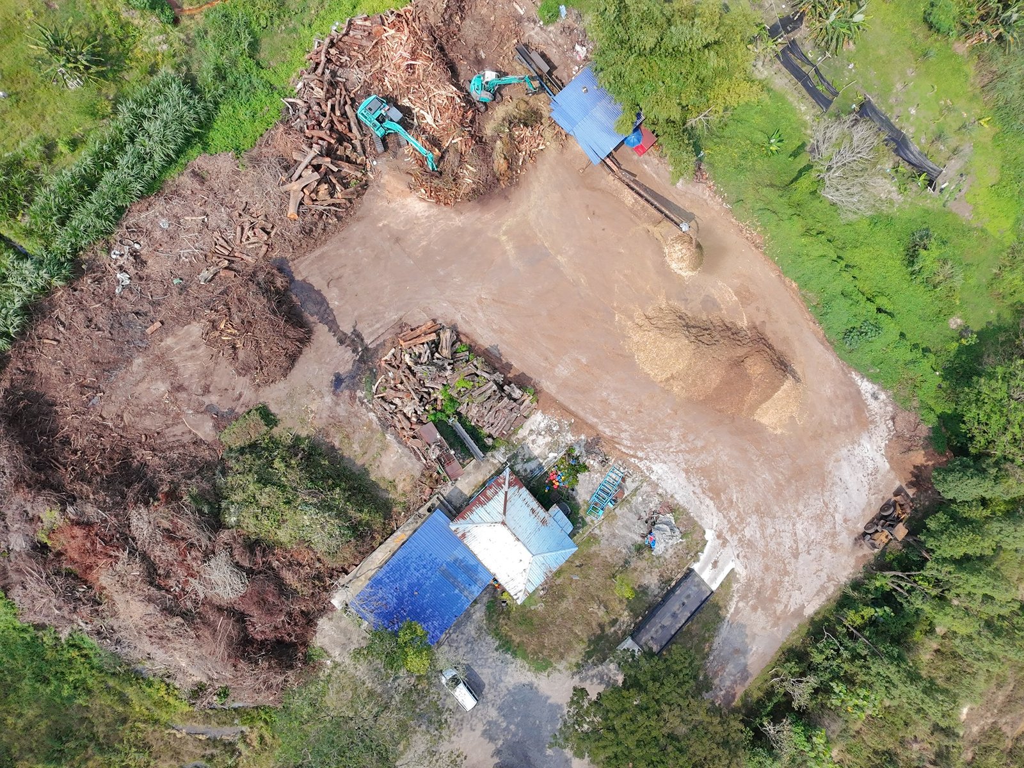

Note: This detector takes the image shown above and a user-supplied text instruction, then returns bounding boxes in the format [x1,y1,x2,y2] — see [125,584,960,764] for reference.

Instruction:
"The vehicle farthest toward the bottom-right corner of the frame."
[853,486,919,558]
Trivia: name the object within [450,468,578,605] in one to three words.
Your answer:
house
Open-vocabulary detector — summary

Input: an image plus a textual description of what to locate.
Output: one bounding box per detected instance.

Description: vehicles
[442,662,479,713]
[466,65,541,111]
[853,486,919,558]
[354,99,442,179]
